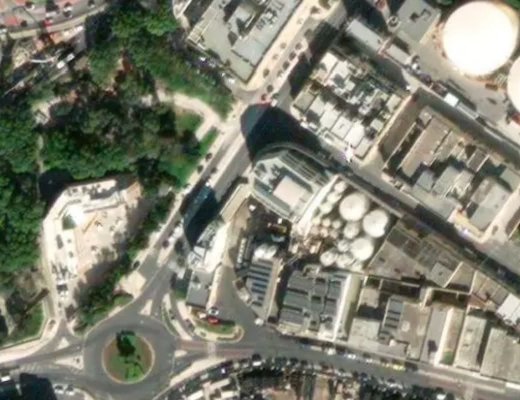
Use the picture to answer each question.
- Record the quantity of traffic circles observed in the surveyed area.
one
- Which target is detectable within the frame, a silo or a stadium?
silo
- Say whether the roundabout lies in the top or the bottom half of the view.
bottom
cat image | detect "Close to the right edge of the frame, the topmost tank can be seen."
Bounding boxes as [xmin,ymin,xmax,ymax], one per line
[442,0,519,76]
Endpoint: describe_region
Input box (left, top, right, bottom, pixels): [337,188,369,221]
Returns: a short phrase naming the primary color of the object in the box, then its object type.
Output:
white silo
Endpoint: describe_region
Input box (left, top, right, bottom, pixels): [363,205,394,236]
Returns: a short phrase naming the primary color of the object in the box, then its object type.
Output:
white silo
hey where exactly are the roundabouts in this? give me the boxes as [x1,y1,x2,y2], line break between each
[102,331,153,382]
